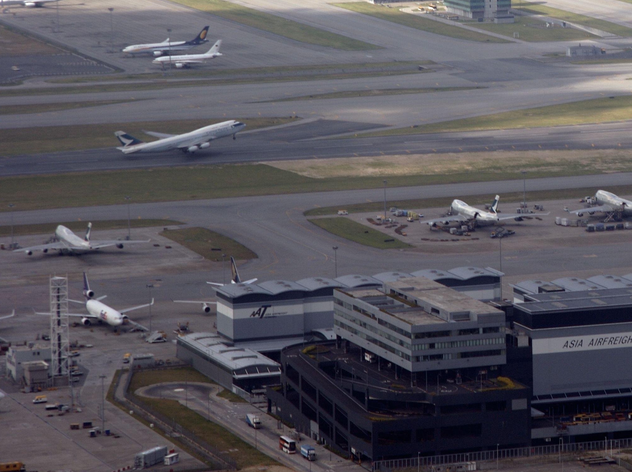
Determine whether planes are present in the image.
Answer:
Yes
